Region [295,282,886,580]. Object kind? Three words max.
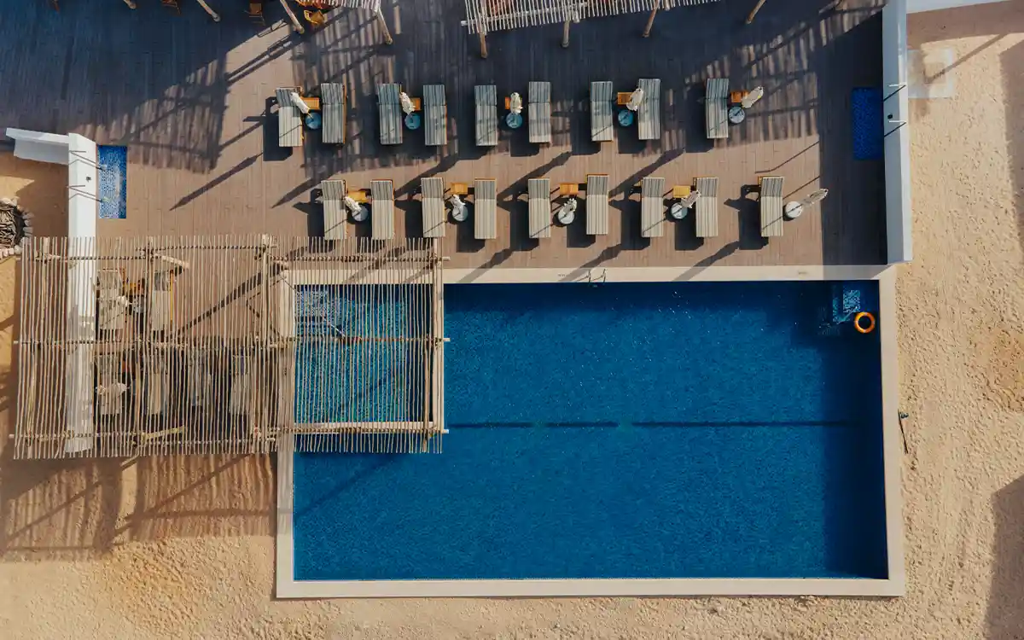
swimming pool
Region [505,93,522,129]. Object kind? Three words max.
umbrella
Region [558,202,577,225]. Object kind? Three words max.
umbrella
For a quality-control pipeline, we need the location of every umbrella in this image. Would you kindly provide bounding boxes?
[728,89,765,125]
[617,91,639,127]
[505,93,522,129]
[450,196,469,221]
[341,195,369,222]
[670,193,698,220]
[289,95,322,130]
[785,194,827,218]
[558,202,577,225]
[399,93,422,130]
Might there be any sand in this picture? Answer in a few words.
Yes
